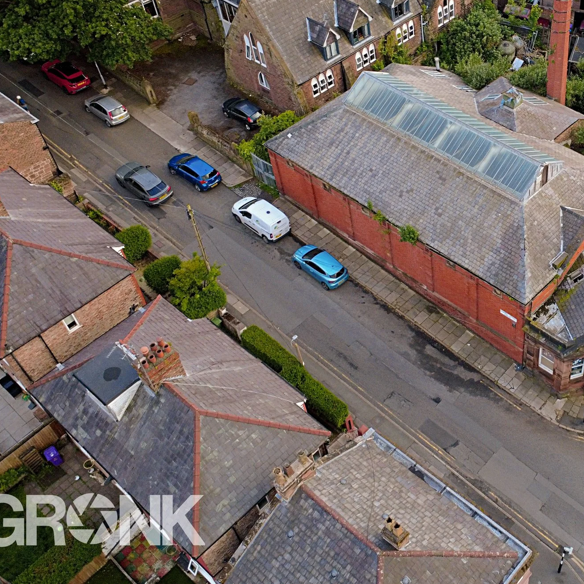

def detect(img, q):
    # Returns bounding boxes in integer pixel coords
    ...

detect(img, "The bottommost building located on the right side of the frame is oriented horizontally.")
[214,421,552,584]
